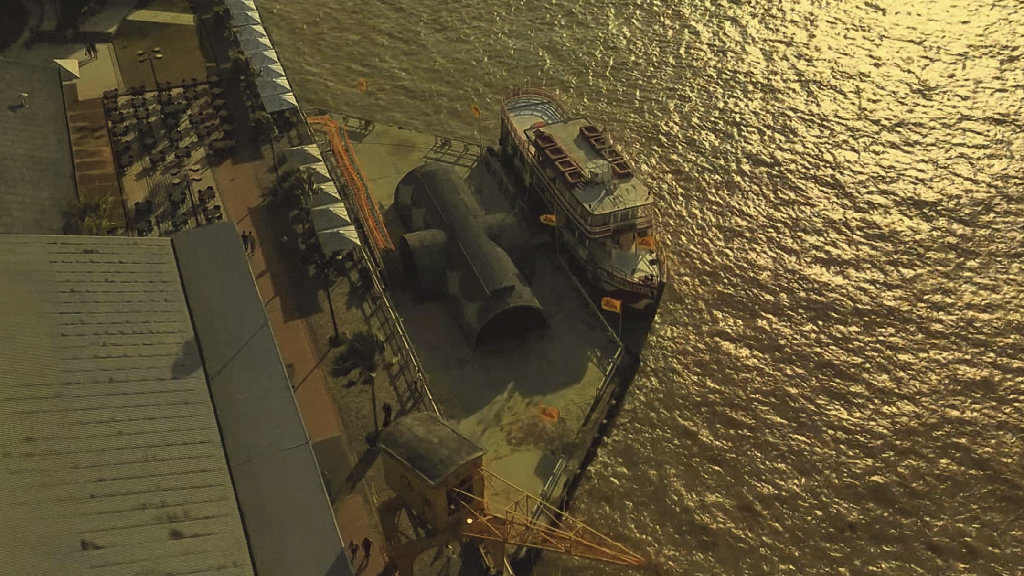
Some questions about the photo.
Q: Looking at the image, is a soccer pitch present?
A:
No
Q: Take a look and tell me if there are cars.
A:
No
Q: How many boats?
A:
one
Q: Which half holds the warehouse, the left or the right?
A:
left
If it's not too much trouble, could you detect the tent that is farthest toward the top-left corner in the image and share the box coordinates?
[51,58,86,100]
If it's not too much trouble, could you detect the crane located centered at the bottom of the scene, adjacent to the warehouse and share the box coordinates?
[362,415,651,576]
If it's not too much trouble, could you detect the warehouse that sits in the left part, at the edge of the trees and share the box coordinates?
[0,223,355,576]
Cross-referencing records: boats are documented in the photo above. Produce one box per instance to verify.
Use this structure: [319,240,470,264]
[498,82,666,336]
